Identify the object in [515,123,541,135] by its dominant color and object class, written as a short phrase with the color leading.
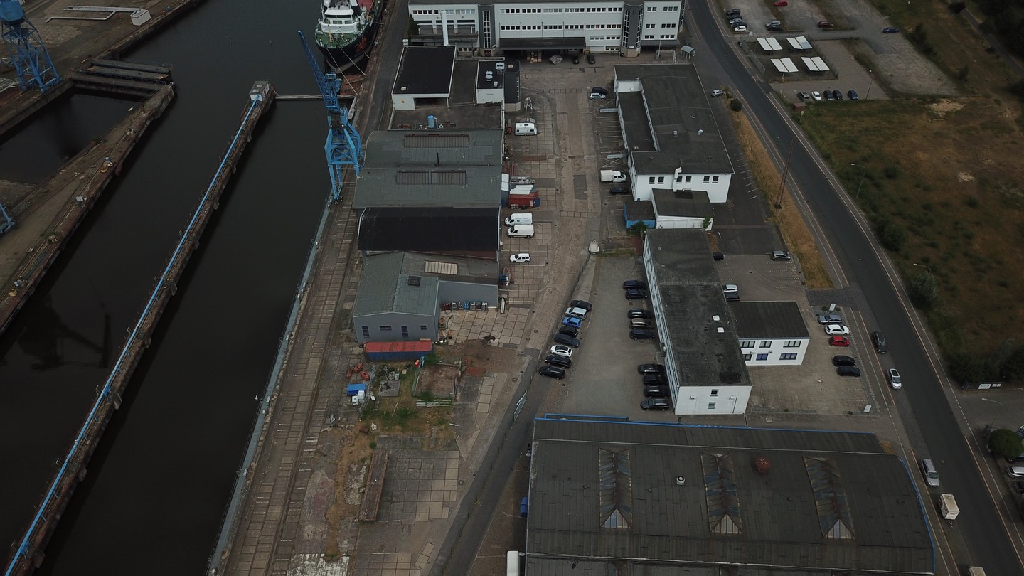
white vehicle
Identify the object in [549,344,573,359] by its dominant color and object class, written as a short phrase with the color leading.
white car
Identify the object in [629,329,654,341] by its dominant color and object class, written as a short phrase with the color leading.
black vehicle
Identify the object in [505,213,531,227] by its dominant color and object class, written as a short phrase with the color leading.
white vehicle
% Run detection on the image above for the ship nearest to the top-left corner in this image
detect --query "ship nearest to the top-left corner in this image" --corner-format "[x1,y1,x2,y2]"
[315,0,385,71]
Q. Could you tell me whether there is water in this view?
Yes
